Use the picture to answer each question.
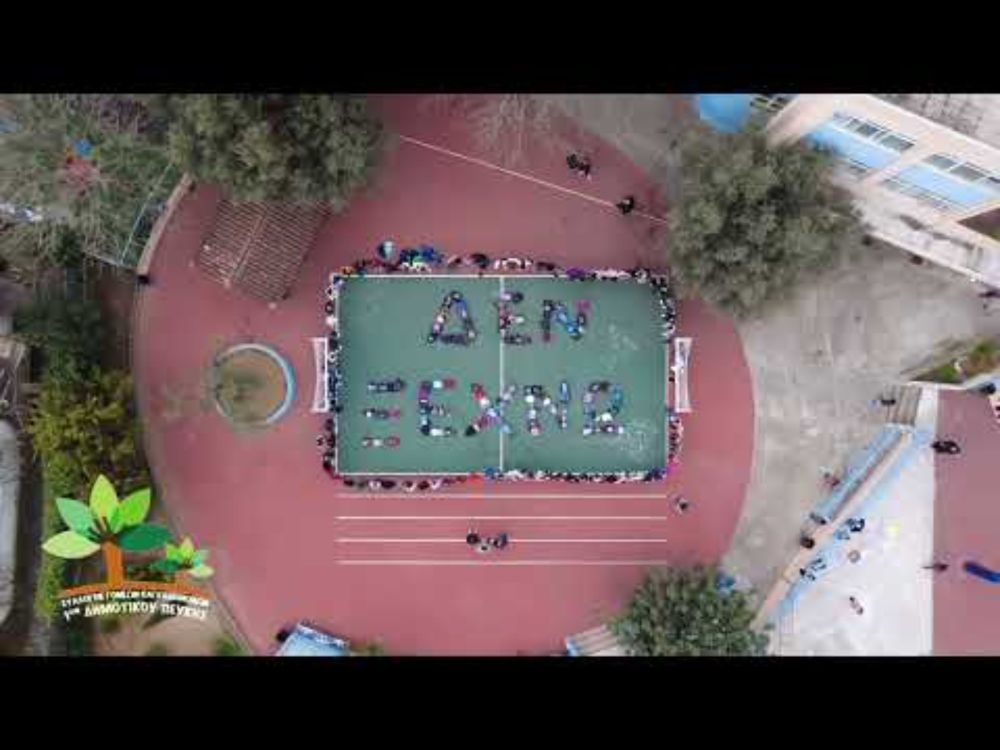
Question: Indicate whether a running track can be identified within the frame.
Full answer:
Yes, the picture does show a running track.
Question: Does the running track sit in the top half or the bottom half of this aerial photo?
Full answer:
The bottom half of the photo is where the running track is.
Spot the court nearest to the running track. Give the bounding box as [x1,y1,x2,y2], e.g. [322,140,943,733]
[337,273,668,476]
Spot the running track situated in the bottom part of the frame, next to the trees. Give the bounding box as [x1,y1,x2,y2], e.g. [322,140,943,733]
[337,494,667,563]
